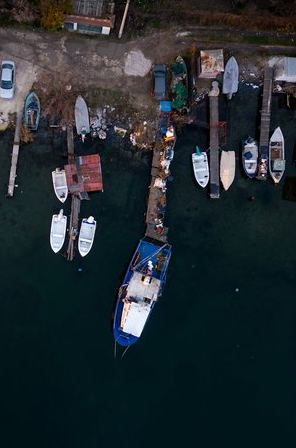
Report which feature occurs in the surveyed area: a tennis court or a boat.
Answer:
boat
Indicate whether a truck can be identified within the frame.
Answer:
No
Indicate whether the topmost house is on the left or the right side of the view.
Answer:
left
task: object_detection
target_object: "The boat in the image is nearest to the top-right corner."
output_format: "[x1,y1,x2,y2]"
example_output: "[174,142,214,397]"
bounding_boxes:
[223,54,240,98]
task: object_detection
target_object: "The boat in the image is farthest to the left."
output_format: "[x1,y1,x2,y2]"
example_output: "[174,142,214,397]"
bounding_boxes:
[24,92,40,131]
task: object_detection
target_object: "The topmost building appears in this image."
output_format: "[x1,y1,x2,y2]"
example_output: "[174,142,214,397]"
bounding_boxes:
[65,0,115,44]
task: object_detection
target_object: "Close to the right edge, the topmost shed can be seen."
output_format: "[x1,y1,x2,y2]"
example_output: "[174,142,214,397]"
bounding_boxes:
[271,57,296,83]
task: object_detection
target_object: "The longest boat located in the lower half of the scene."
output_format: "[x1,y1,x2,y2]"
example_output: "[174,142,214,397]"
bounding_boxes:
[111,239,176,350]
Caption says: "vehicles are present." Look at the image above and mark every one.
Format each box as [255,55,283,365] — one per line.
[0,61,15,100]
[151,66,168,100]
